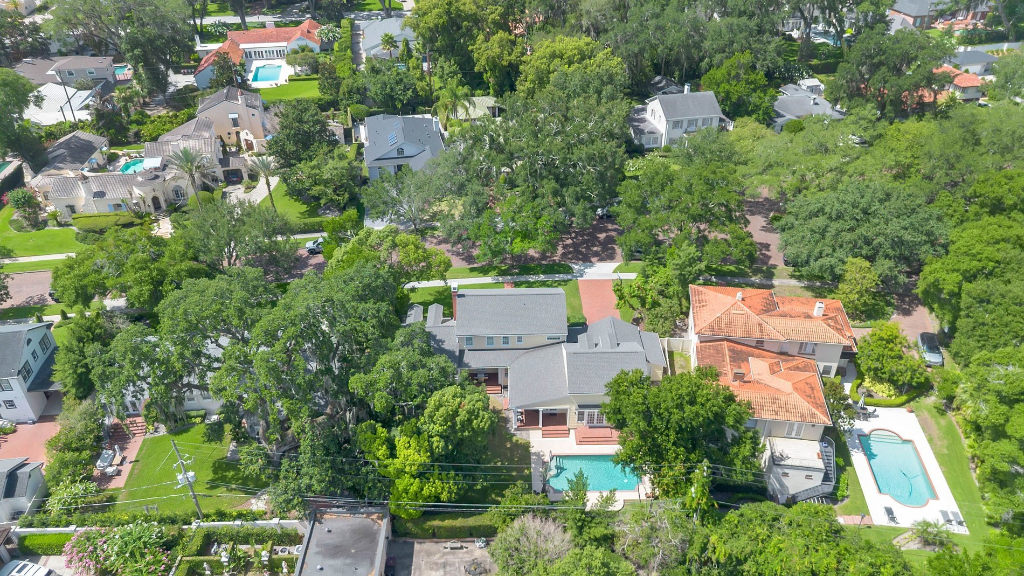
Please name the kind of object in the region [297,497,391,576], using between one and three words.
building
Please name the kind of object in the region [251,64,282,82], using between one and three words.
swimming pool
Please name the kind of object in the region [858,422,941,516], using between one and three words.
swimming pool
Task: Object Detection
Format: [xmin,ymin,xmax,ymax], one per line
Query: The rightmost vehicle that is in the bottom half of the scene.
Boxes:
[919,331,947,367]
